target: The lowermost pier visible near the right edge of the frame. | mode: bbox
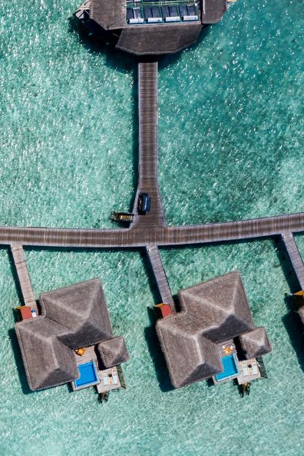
[276,232,304,288]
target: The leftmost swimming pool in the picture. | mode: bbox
[67,359,100,391]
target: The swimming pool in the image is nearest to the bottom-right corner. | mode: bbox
[206,351,240,384]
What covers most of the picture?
water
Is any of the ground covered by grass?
No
